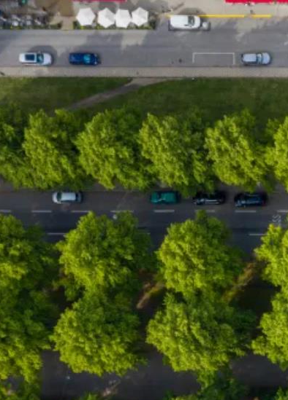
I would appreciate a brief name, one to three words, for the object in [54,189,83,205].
car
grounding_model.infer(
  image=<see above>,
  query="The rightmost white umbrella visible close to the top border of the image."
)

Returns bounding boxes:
[132,8,148,26]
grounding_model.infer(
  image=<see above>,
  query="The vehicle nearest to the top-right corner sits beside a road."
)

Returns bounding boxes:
[240,50,271,66]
